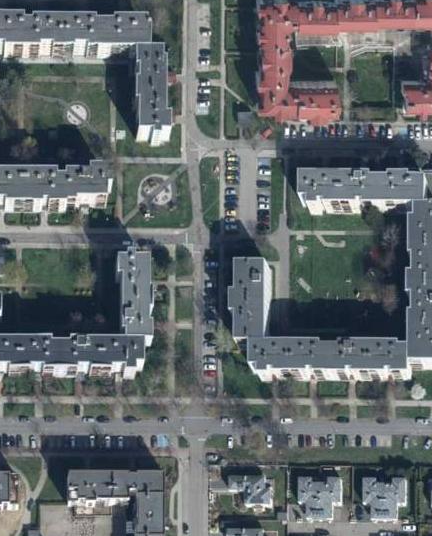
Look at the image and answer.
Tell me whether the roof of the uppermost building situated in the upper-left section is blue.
No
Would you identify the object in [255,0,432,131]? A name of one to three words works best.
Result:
building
